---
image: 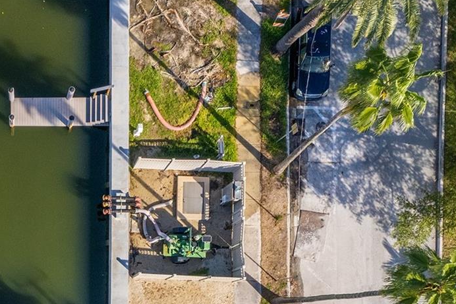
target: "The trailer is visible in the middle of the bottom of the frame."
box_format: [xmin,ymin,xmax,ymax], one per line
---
[164,226,236,264]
